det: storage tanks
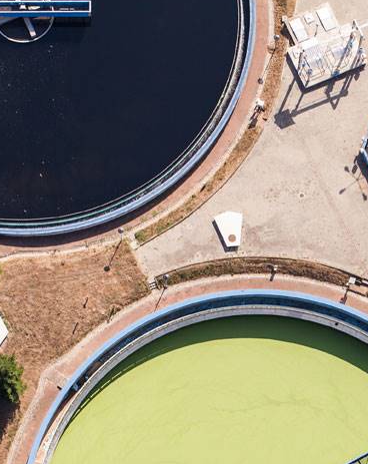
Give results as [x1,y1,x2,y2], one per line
[26,289,368,464]
[0,0,257,239]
